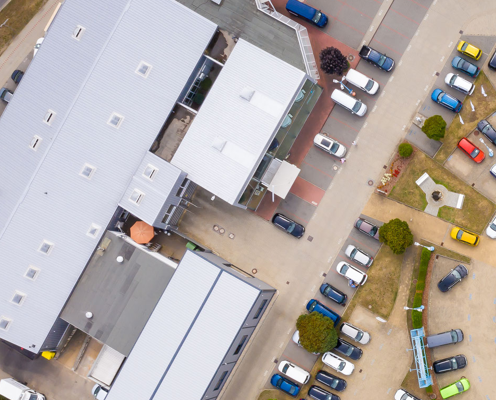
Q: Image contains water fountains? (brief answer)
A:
Yes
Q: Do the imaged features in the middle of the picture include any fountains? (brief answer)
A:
No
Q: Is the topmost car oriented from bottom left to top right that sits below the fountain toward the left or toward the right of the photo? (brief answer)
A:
right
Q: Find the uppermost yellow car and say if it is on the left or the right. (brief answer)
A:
right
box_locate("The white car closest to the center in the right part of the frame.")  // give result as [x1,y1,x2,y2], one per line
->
[312,133,349,159]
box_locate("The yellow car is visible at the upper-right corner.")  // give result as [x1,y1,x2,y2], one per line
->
[456,41,483,61]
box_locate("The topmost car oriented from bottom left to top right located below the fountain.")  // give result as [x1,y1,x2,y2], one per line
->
[437,263,469,294]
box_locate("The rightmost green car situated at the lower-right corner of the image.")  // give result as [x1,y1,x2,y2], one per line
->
[440,379,471,400]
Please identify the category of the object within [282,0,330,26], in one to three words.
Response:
vehicle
